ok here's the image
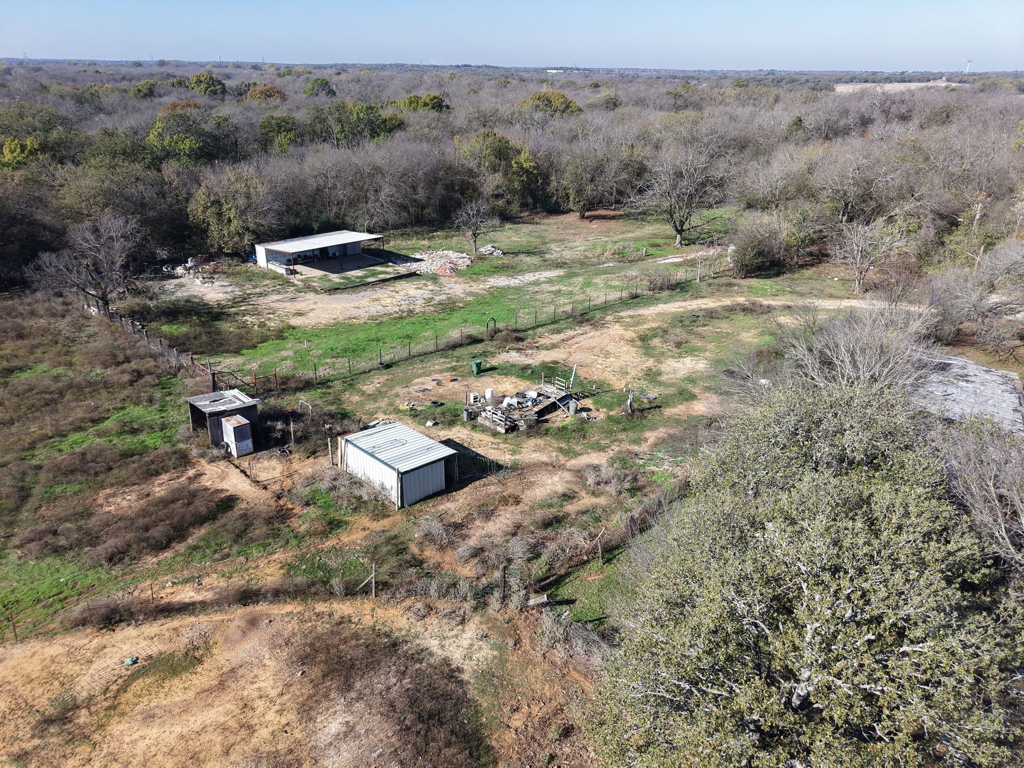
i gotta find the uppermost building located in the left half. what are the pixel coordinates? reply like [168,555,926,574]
[258,226,386,279]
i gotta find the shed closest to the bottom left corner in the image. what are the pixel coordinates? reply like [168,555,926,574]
[179,385,261,449]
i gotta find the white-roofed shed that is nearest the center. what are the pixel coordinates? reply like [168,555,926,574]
[325,416,461,516]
